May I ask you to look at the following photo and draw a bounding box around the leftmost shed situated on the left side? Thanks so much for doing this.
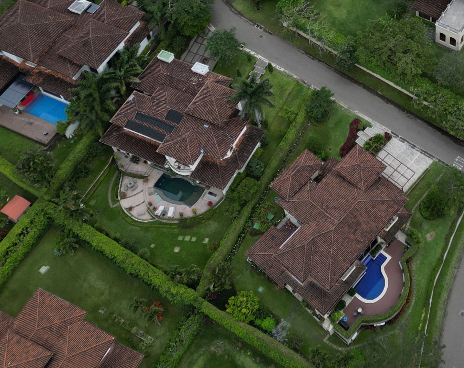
[0,195,31,223]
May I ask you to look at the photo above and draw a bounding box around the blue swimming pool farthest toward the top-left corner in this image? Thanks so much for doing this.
[20,92,62,128]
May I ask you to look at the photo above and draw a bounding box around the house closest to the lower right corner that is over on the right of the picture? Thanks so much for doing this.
[245,144,413,319]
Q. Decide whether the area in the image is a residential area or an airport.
residential area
